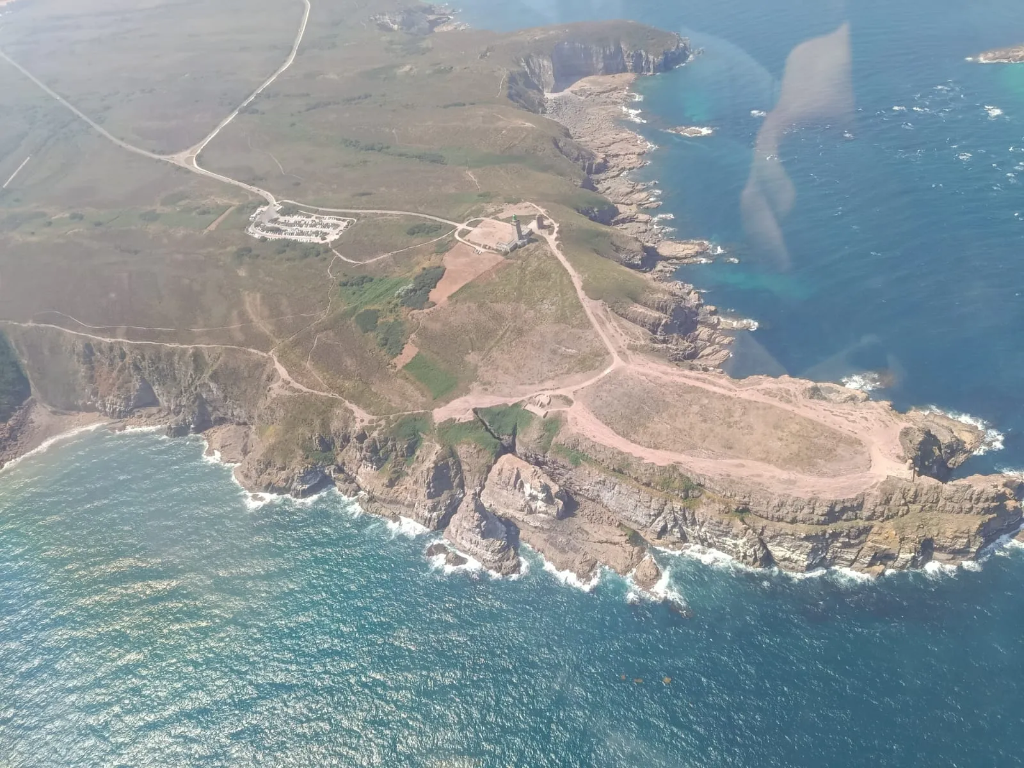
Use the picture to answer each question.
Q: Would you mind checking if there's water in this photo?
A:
Yes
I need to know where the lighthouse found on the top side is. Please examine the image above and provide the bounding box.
[497,213,539,260]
